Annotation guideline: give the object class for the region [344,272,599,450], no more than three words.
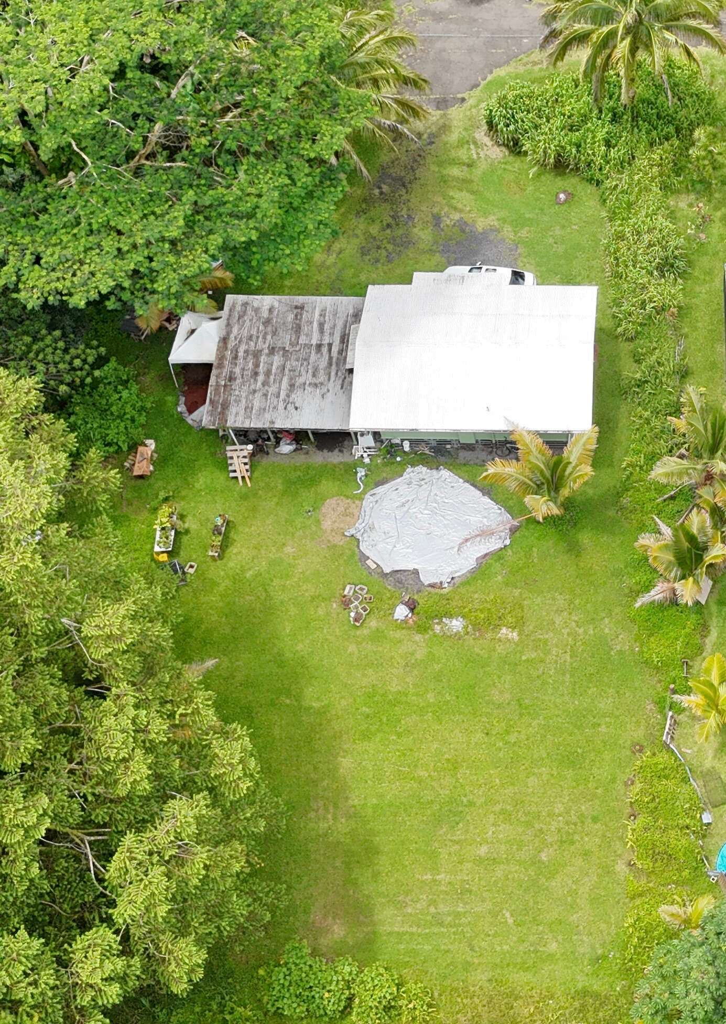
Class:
house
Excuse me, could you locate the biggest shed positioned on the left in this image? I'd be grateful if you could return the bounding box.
[202,294,365,443]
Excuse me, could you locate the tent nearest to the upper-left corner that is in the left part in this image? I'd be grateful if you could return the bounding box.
[168,310,222,387]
